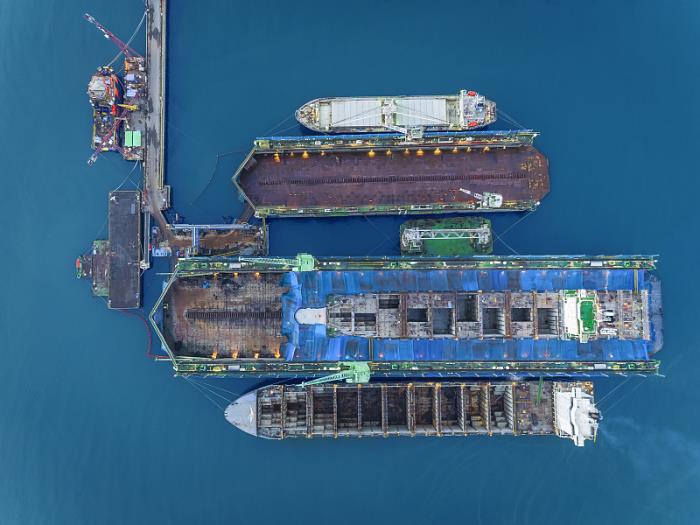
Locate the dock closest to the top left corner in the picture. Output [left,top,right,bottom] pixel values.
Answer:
[142,0,171,212]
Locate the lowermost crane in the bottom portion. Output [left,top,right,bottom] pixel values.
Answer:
[301,360,371,388]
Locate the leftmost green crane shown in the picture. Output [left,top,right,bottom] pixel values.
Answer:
[239,254,314,271]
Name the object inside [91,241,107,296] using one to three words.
ship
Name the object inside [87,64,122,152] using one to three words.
ship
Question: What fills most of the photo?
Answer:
water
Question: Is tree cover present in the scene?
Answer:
No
